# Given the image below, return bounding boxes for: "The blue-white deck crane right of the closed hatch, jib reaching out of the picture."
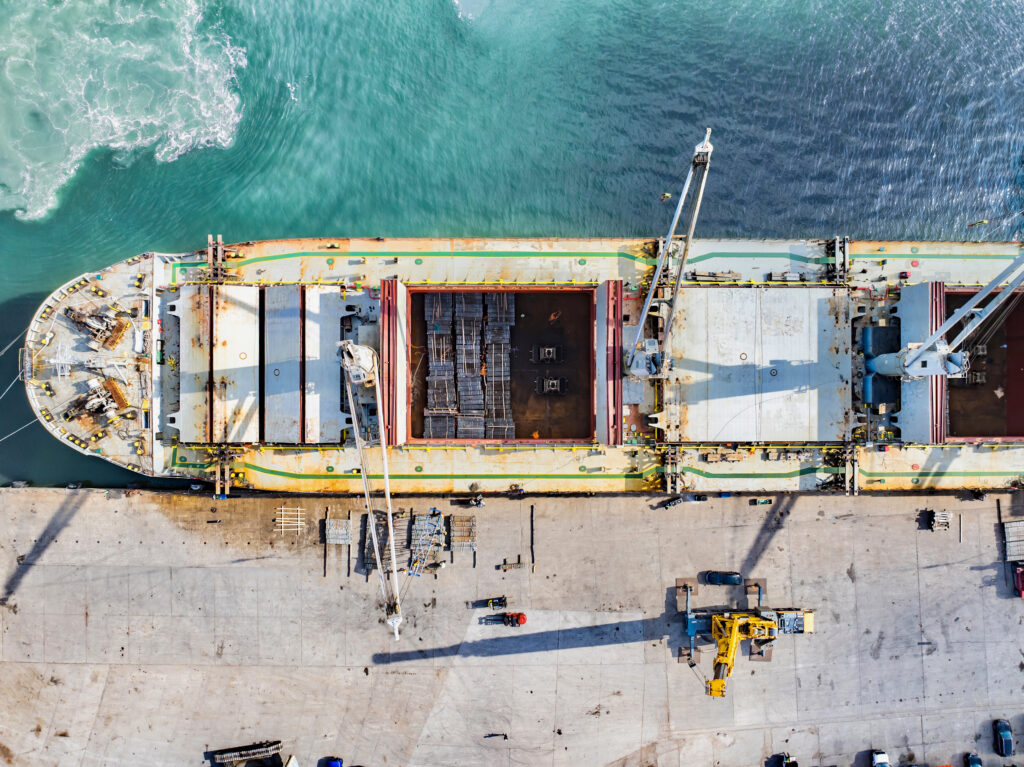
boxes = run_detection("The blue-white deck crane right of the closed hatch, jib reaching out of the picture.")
[851,260,1024,384]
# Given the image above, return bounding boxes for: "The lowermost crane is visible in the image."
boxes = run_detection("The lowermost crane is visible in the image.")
[679,581,813,697]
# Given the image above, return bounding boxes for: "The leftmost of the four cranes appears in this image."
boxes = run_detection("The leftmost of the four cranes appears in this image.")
[328,340,404,642]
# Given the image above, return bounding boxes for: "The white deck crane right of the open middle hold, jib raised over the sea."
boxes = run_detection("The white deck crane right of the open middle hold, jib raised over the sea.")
[622,128,712,383]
